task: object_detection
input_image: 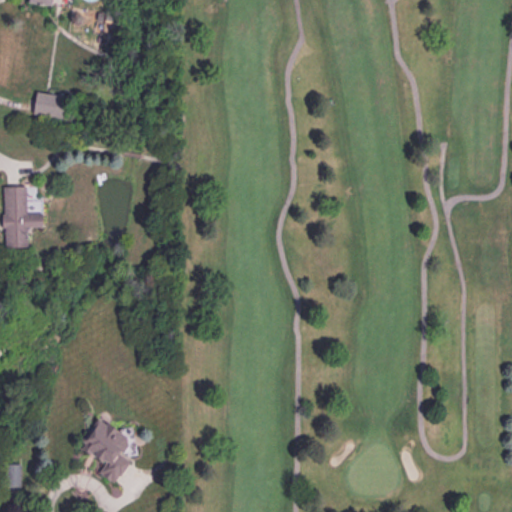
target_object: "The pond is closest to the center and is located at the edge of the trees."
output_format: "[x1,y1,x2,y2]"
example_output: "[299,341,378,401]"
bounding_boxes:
[98,179,132,241]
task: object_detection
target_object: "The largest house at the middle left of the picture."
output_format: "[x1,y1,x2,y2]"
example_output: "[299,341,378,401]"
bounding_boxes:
[2,186,44,249]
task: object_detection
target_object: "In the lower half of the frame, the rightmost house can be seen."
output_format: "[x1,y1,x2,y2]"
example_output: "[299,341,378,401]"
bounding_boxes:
[88,420,131,482]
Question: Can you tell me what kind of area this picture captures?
golf course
